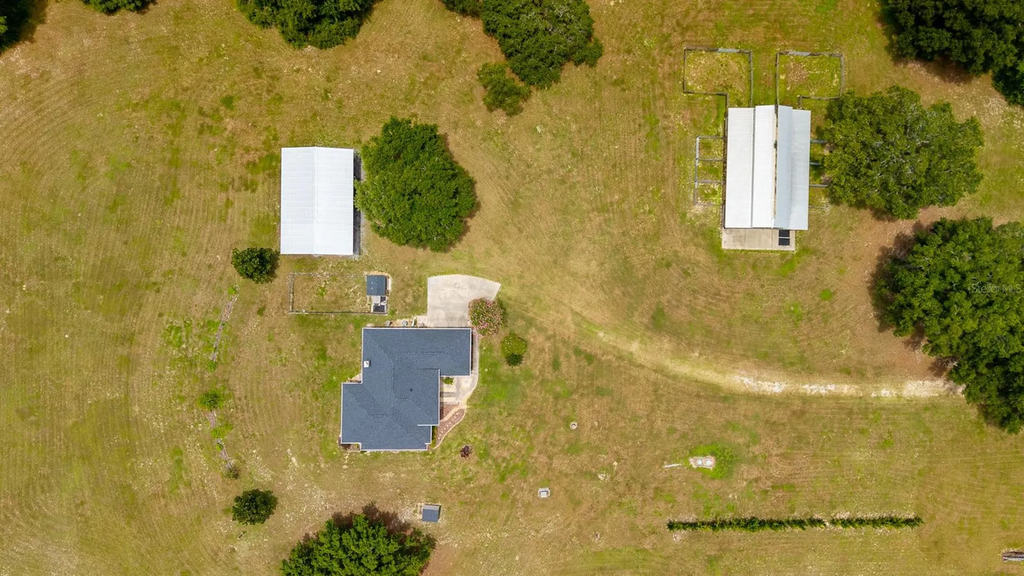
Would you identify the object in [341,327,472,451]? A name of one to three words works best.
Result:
house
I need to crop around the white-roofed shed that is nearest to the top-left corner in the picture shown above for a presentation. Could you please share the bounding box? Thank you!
[281,146,356,256]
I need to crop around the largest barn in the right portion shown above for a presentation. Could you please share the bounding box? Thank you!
[721,103,811,231]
